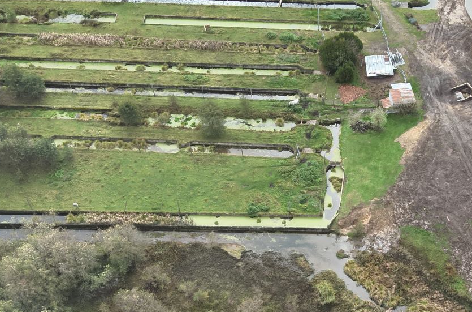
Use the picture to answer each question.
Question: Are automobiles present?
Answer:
No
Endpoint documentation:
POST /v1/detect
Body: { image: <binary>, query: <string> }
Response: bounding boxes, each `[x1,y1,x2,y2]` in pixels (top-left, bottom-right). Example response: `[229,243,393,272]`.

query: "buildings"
[382,82,415,115]
[365,55,393,82]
